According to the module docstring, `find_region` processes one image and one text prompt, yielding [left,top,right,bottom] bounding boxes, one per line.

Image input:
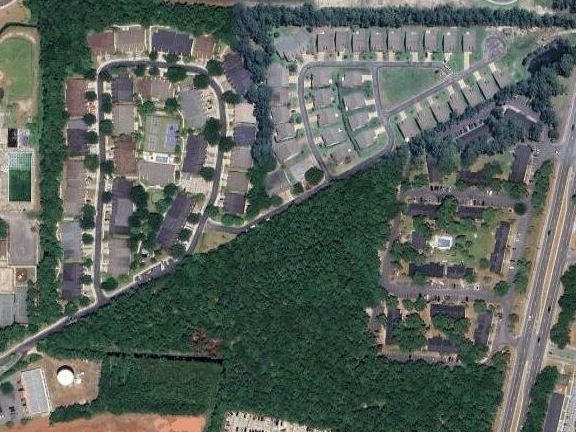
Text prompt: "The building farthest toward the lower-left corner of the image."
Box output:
[21,368,52,414]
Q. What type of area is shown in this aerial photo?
residential area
